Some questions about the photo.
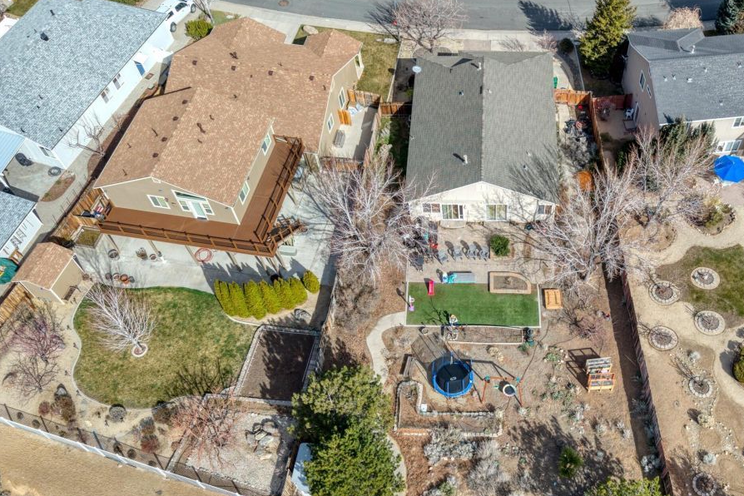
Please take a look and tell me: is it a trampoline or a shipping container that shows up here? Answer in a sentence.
Looking from above, you can make out a trampoline.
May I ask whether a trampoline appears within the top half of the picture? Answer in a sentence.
No, no trampoline appears within the top half of the picture.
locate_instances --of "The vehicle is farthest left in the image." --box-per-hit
[159,0,199,28]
